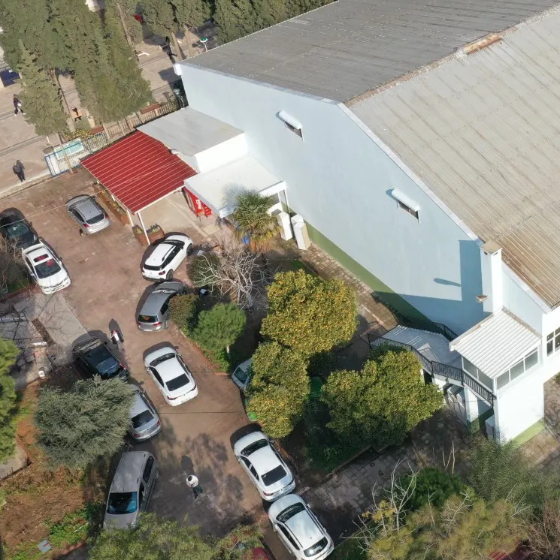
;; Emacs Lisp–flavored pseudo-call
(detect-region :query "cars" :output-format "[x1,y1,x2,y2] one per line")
[0,206,45,252]
[63,197,115,235]
[266,489,339,560]
[113,383,170,447]
[232,427,294,504]
[15,243,73,291]
[100,442,159,534]
[137,278,185,331]
[145,345,200,408]
[225,341,260,407]
[136,231,191,282]
[67,332,136,388]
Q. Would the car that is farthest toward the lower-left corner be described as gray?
Yes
